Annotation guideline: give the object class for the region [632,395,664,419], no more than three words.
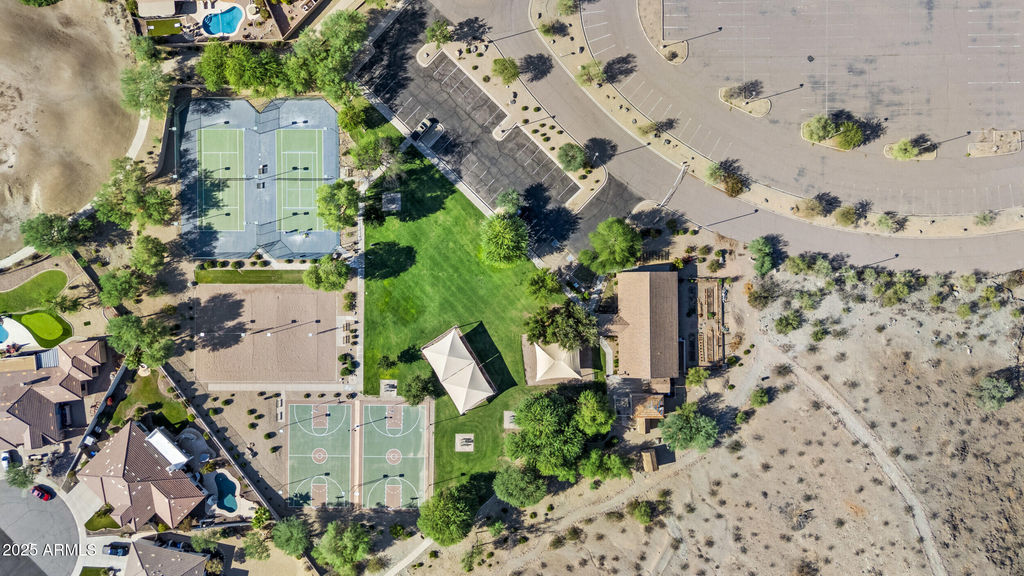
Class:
house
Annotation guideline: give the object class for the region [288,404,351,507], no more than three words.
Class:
basketball court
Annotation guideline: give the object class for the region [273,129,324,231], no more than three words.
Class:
tennis court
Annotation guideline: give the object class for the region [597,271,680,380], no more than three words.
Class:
building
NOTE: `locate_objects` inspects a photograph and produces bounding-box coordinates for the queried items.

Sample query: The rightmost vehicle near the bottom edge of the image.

[102,545,129,557]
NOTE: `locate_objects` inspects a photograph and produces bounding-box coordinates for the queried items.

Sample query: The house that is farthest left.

[0,341,103,449]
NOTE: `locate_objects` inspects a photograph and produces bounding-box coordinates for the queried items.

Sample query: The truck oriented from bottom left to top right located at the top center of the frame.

[408,118,431,142]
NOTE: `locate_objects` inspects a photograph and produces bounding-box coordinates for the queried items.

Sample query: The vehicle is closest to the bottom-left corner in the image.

[29,487,49,502]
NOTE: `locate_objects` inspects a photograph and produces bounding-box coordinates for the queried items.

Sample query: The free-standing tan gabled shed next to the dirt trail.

[641,449,658,475]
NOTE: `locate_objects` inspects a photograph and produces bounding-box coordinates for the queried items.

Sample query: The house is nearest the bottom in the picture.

[124,538,210,576]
